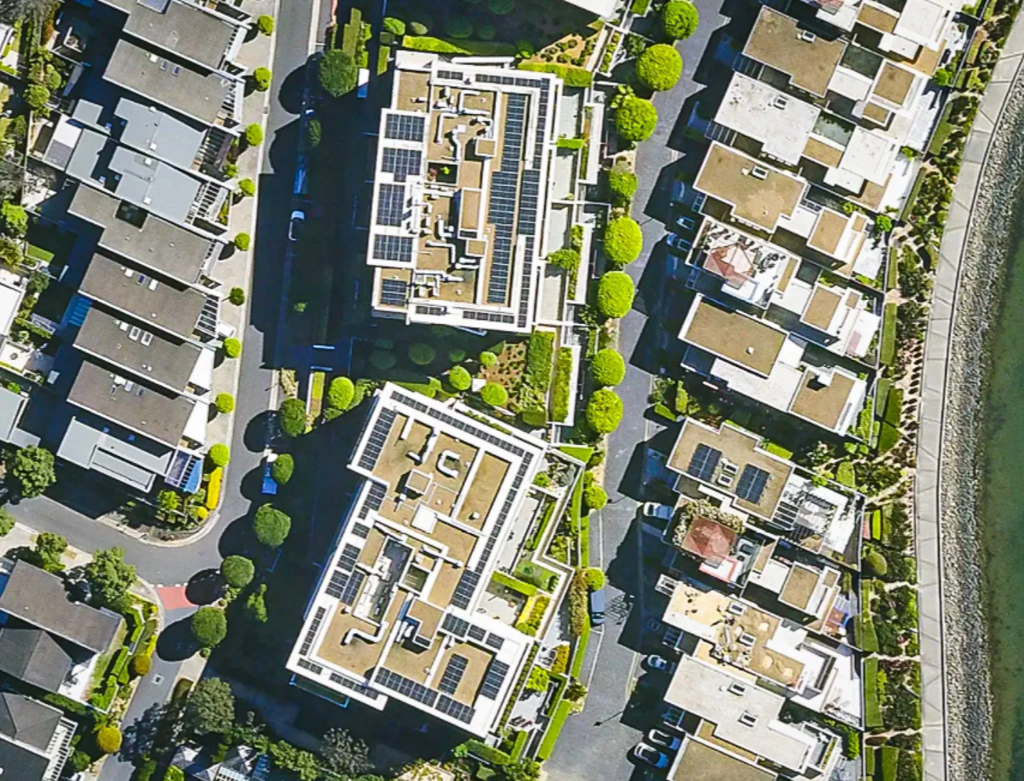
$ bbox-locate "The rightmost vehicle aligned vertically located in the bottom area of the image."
[590,590,606,624]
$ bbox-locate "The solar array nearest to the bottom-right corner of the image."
[735,463,770,504]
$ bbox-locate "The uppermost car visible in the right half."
[669,175,689,206]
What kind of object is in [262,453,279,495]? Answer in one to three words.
vehicle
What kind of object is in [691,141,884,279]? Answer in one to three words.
house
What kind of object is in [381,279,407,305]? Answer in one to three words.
solar array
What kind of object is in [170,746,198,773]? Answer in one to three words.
umbrella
